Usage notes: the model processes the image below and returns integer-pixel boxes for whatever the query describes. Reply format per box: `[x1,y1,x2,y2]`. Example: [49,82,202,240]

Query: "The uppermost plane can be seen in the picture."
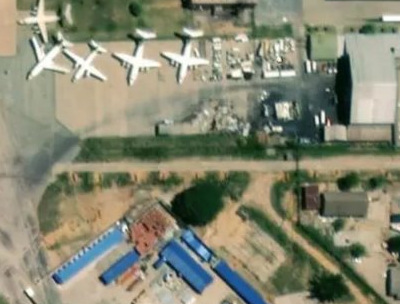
[19,0,70,41]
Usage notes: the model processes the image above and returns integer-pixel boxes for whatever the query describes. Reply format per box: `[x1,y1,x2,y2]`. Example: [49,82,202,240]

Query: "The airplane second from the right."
[116,31,163,83]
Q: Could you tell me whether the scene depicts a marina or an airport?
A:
airport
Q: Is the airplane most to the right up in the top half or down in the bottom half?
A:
top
